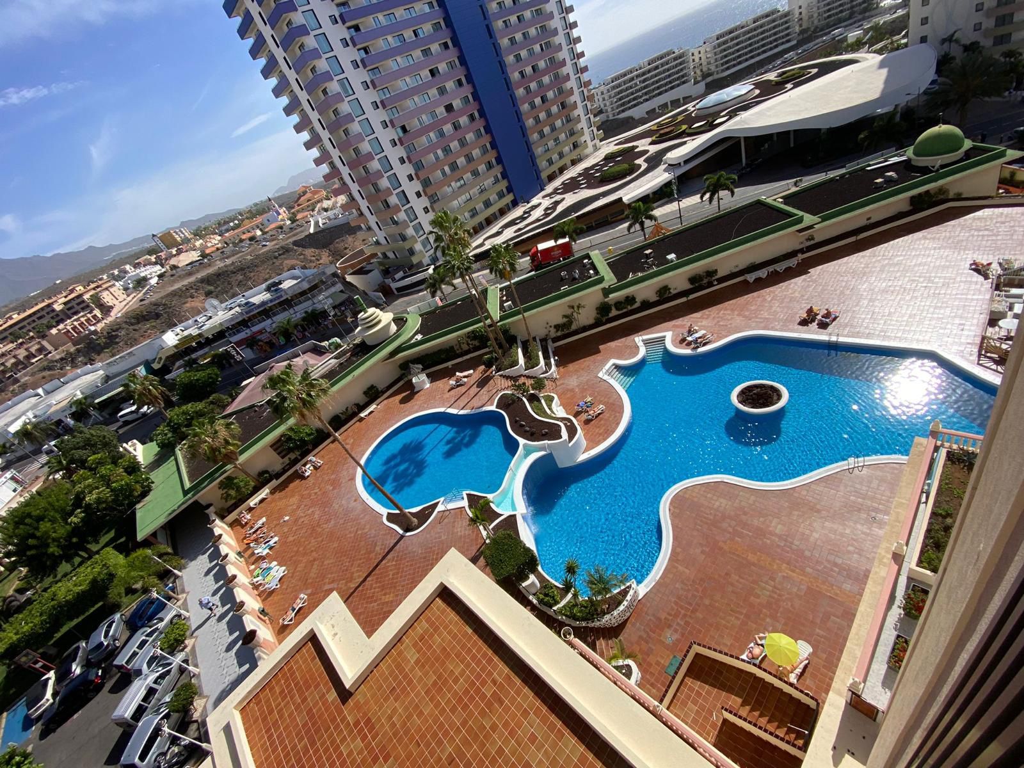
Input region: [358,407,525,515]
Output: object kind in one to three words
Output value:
swimming pool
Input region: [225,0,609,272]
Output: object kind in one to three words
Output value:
building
